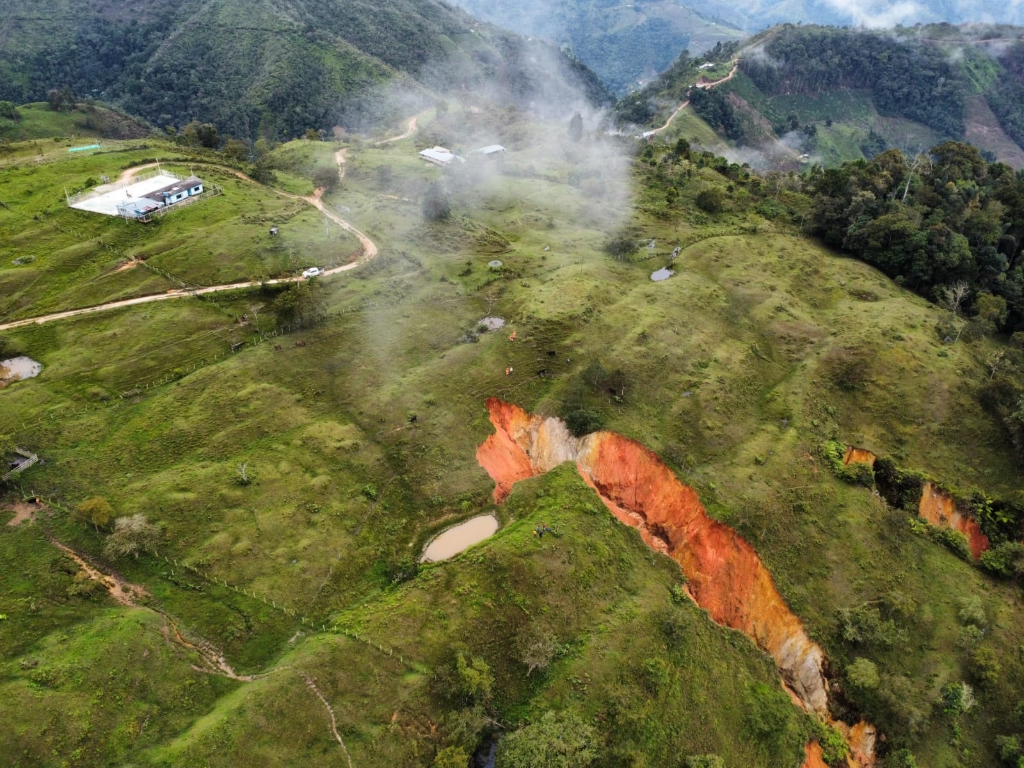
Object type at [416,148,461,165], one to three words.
house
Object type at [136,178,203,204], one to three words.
building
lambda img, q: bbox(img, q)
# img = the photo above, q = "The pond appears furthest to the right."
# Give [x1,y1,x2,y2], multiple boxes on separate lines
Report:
[421,515,498,562]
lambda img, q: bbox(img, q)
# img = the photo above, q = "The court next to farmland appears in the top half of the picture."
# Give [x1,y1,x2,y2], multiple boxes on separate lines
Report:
[70,174,178,216]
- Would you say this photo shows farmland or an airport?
farmland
